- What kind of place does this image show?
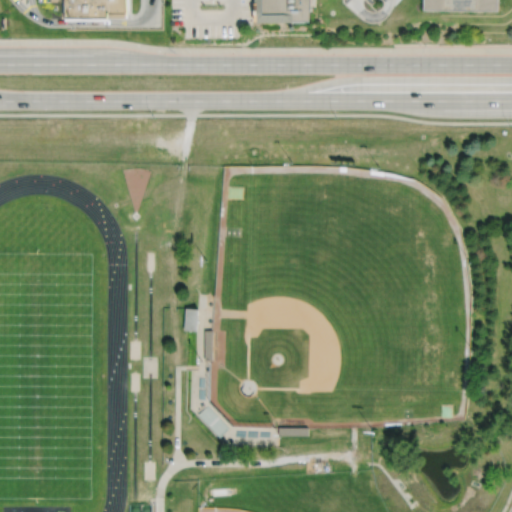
sports ground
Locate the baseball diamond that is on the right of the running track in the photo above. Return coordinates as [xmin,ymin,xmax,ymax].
[212,166,472,428]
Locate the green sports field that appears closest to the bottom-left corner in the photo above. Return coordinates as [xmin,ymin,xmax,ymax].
[0,250,94,502]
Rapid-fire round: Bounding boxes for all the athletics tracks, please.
[0,176,127,512]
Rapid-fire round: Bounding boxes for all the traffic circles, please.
[343,0,402,24]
